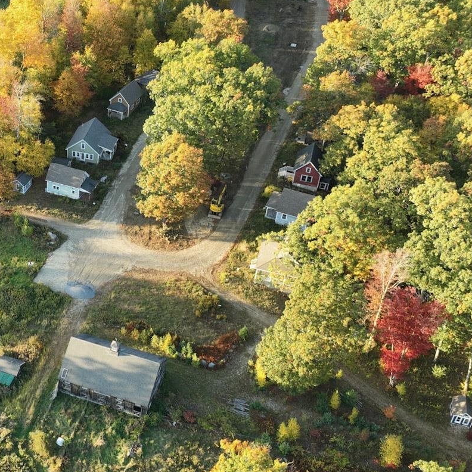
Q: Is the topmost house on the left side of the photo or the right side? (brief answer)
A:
left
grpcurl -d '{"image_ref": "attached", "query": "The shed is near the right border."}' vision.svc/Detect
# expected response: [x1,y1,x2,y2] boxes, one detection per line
[451,393,472,427]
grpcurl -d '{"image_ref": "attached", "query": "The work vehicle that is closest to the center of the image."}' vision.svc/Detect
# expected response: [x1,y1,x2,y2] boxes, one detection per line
[209,184,230,219]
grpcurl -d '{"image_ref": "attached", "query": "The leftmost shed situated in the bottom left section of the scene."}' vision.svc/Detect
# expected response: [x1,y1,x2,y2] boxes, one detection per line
[0,350,27,387]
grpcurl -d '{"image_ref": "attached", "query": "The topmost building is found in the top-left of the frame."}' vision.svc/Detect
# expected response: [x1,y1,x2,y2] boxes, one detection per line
[107,66,144,120]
